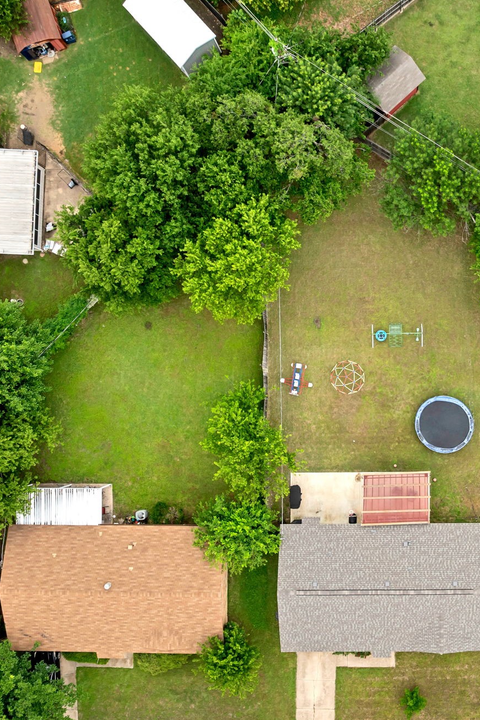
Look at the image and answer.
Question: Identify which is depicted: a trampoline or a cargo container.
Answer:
trampoline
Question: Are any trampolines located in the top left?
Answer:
No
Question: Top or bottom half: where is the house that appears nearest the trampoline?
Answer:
bottom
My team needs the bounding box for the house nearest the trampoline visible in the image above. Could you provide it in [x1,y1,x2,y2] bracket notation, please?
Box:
[275,517,480,657]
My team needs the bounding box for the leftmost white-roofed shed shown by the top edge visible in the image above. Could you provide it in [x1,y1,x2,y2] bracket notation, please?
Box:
[121,0,216,77]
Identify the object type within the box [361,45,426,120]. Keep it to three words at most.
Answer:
shed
